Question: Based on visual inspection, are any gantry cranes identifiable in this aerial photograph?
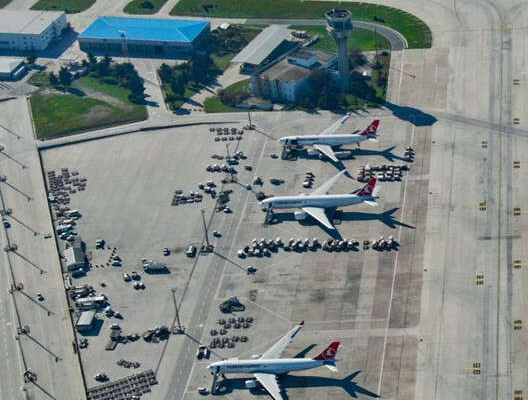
No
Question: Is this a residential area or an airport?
airport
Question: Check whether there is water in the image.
No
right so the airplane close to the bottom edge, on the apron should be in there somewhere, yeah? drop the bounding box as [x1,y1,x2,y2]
[208,318,338,400]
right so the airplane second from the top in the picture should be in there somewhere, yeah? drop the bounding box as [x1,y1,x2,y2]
[257,169,375,226]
